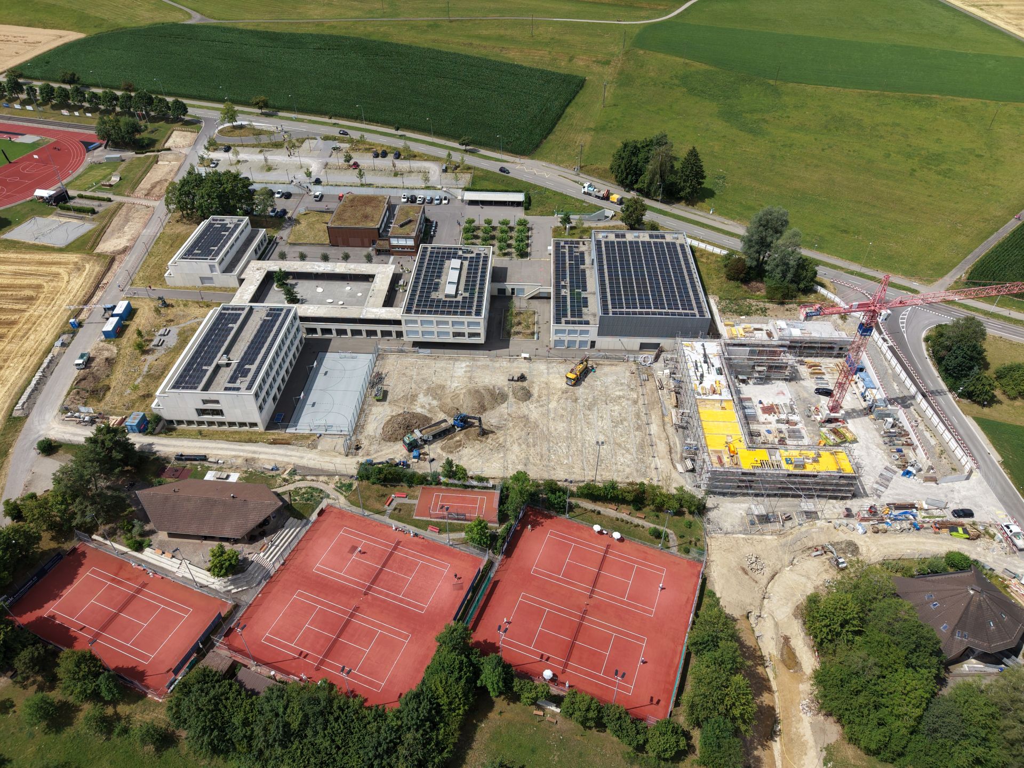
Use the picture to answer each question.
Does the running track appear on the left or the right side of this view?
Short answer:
left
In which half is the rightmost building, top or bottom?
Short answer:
bottom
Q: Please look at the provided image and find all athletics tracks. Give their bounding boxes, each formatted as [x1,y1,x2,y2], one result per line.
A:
[0,123,106,210]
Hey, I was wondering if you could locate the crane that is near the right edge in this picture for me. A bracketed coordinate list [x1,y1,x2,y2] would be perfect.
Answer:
[806,270,1024,428]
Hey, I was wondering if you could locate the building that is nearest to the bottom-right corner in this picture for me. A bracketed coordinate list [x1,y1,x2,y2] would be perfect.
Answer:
[893,565,1024,657]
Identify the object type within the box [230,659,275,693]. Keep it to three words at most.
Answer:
shed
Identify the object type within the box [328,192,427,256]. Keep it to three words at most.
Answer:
building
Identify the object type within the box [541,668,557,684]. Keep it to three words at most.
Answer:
umbrella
